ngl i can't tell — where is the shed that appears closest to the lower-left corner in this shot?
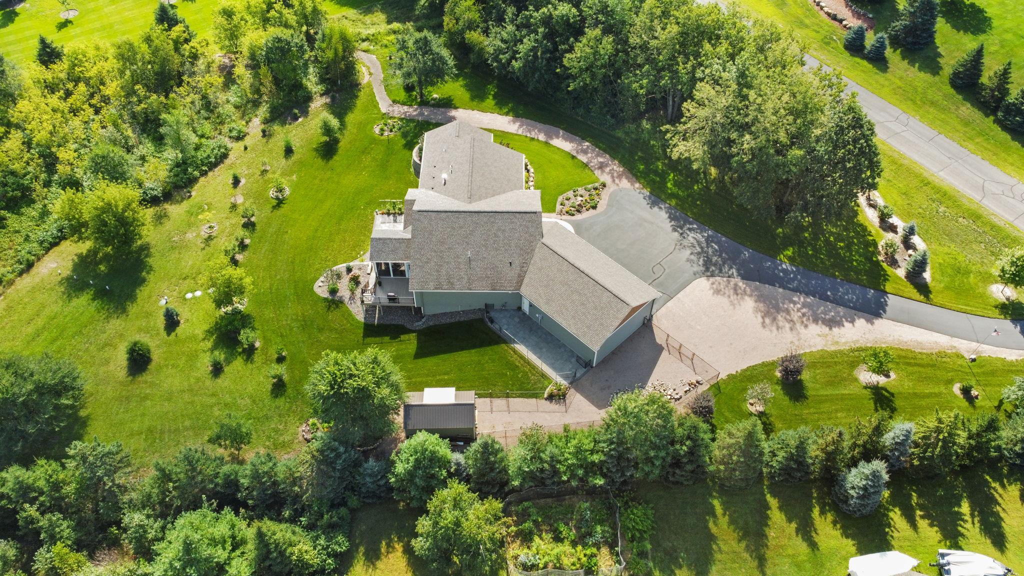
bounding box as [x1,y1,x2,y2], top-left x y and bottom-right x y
[402,385,476,442]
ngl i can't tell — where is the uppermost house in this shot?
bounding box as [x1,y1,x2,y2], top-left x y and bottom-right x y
[359,119,661,367]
